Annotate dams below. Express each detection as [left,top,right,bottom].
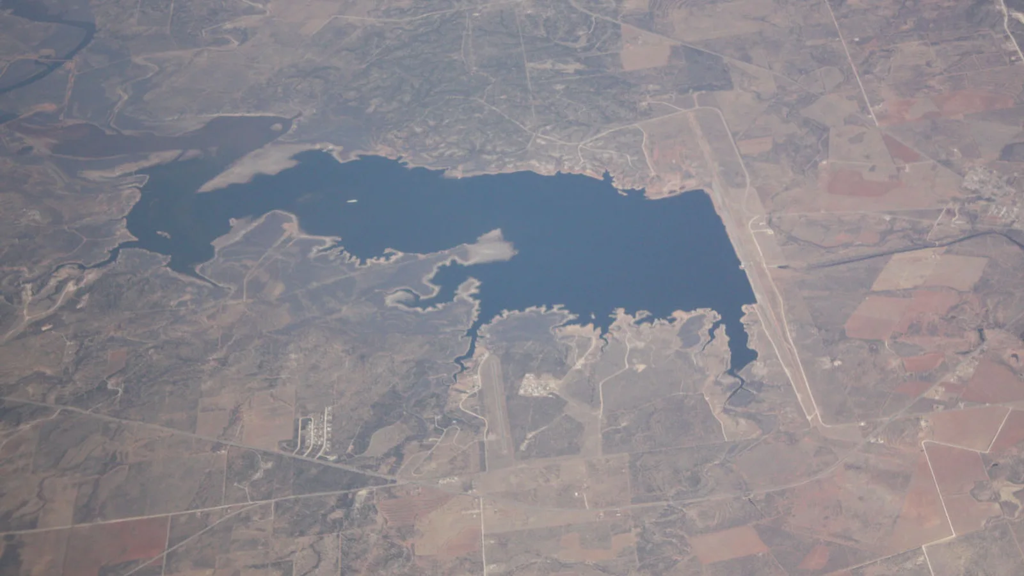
[696,118,814,415]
